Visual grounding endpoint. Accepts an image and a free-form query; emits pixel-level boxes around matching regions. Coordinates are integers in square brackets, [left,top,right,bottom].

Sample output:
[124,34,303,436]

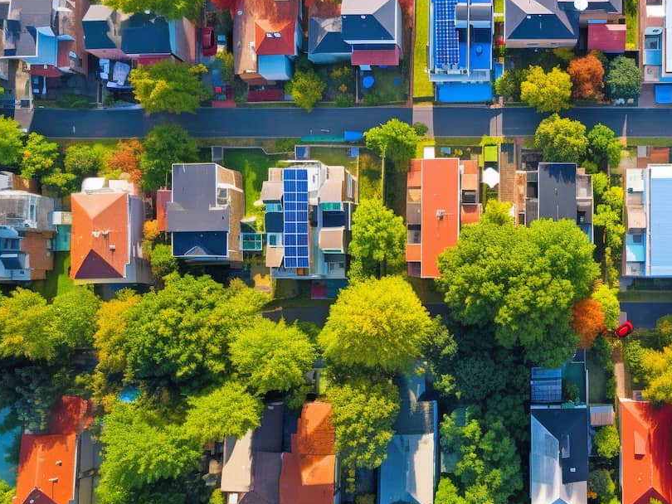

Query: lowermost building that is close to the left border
[13,393,110,504]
